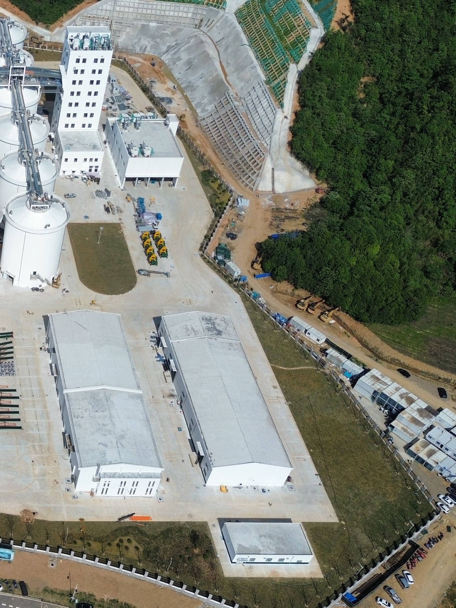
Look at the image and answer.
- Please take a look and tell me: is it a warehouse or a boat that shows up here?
warehouse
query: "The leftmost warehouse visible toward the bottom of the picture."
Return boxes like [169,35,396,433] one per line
[45,309,166,496]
